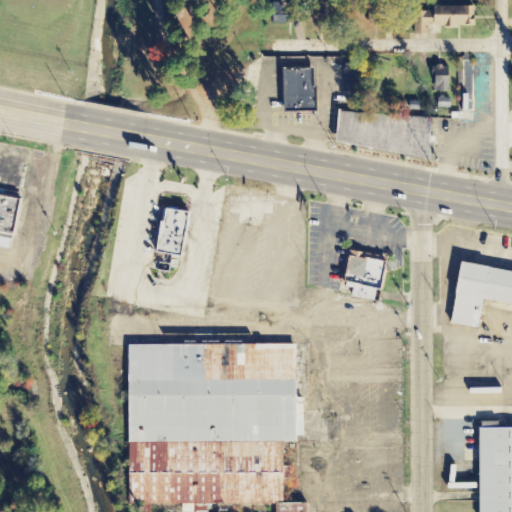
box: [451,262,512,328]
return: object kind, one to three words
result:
building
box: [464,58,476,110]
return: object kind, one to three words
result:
building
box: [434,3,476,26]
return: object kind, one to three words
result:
house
